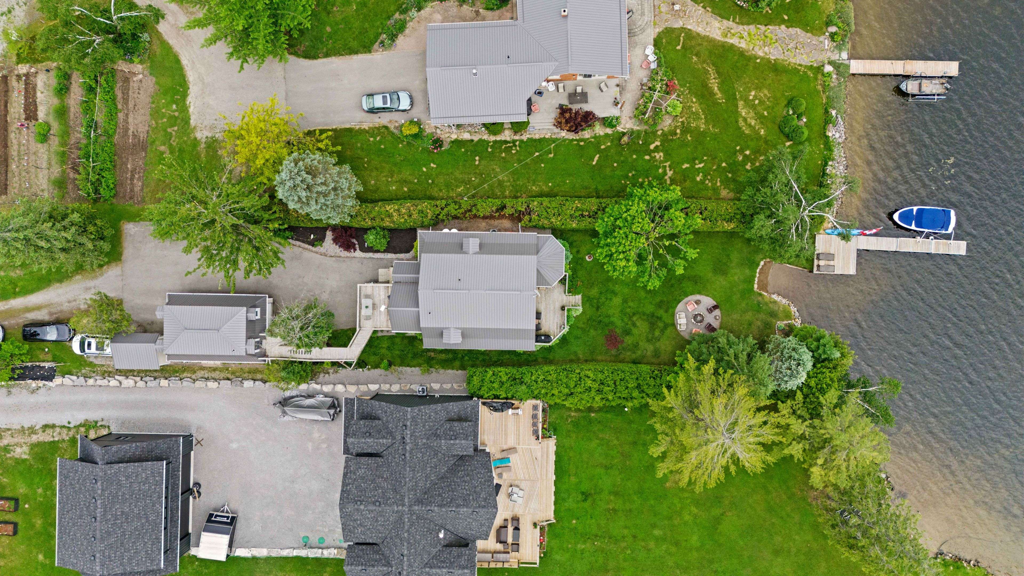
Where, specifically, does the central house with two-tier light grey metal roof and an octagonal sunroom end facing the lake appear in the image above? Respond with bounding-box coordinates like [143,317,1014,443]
[387,230,566,351]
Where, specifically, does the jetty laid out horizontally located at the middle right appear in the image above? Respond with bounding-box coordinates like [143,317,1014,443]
[811,234,969,275]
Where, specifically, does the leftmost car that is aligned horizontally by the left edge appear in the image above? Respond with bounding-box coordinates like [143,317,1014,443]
[19,322,75,344]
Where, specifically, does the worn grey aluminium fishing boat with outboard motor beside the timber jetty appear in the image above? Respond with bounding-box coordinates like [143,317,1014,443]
[899,78,953,94]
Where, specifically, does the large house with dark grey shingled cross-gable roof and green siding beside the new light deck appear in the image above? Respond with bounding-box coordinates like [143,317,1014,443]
[339,392,497,576]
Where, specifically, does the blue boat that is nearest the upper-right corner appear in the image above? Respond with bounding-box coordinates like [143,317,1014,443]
[893,207,955,234]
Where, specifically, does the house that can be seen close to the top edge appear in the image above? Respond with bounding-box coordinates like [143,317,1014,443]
[426,0,630,126]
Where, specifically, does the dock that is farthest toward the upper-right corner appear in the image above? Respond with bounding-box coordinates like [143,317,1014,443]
[847,58,961,79]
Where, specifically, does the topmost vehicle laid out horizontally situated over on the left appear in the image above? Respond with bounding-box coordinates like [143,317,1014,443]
[361,89,412,115]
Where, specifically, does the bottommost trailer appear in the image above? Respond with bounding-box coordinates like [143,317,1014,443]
[197,501,241,560]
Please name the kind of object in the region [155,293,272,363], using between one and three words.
building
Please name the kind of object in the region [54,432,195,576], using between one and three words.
building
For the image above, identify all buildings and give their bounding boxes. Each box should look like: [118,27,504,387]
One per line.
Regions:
[339,392,497,576]
[54,432,195,576]
[387,230,566,351]
[426,0,630,126]
[155,293,272,363]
